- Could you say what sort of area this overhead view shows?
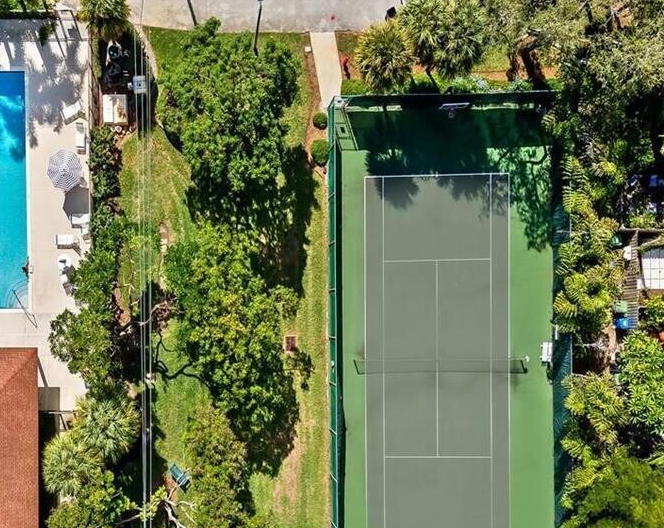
sports ground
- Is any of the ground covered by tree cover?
Yes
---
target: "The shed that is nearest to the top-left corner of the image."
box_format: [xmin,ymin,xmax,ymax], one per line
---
[103,93,128,129]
